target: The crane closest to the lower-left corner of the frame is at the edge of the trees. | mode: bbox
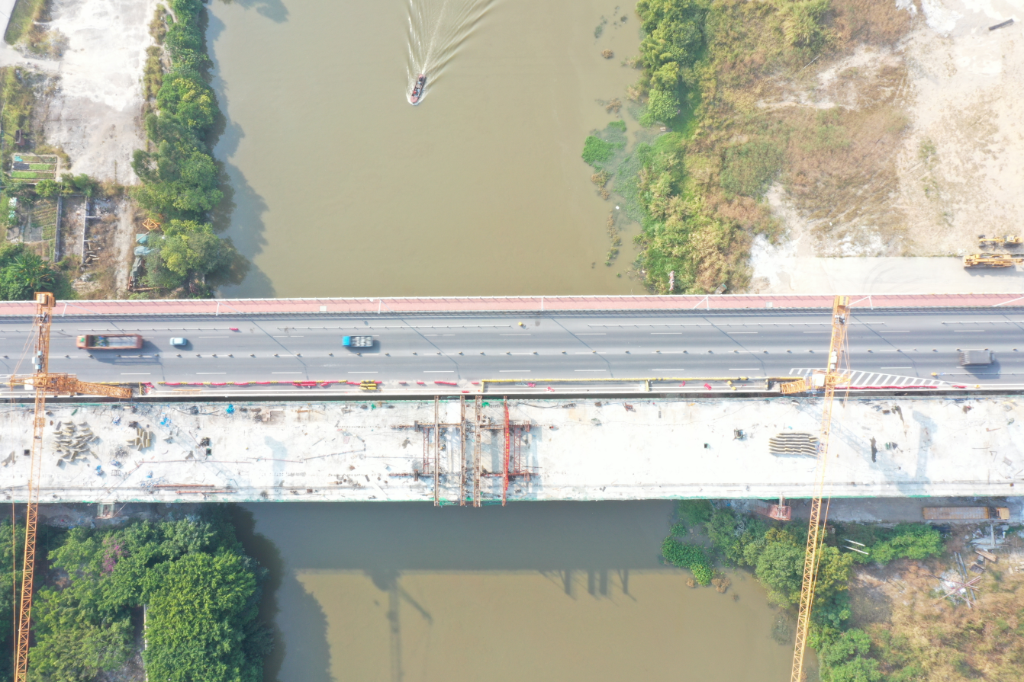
[5,291,172,682]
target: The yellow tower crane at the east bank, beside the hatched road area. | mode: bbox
[749,294,854,682]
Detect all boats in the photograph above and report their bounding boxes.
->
[412,73,424,102]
